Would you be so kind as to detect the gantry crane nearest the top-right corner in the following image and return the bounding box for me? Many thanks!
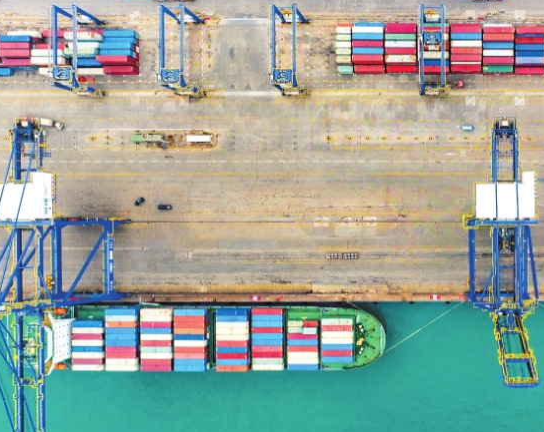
[414,4,454,96]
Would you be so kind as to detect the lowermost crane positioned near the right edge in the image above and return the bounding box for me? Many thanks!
[461,121,538,390]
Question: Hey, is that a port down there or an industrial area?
port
